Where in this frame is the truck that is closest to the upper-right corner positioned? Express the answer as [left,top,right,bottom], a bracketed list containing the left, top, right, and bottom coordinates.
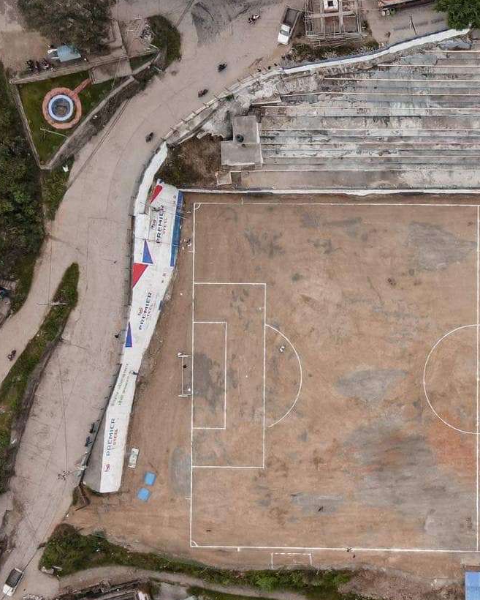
[274,1,302,45]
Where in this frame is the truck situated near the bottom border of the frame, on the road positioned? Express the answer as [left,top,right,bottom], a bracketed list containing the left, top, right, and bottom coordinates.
[0,567,22,598]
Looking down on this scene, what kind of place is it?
sports ground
